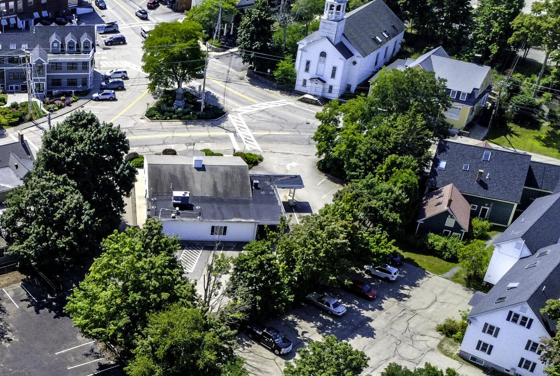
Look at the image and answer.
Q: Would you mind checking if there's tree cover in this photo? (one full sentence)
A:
Yes, some tree cover is visible.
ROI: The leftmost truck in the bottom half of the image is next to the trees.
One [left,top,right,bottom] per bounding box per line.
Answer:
[243,326,294,356]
